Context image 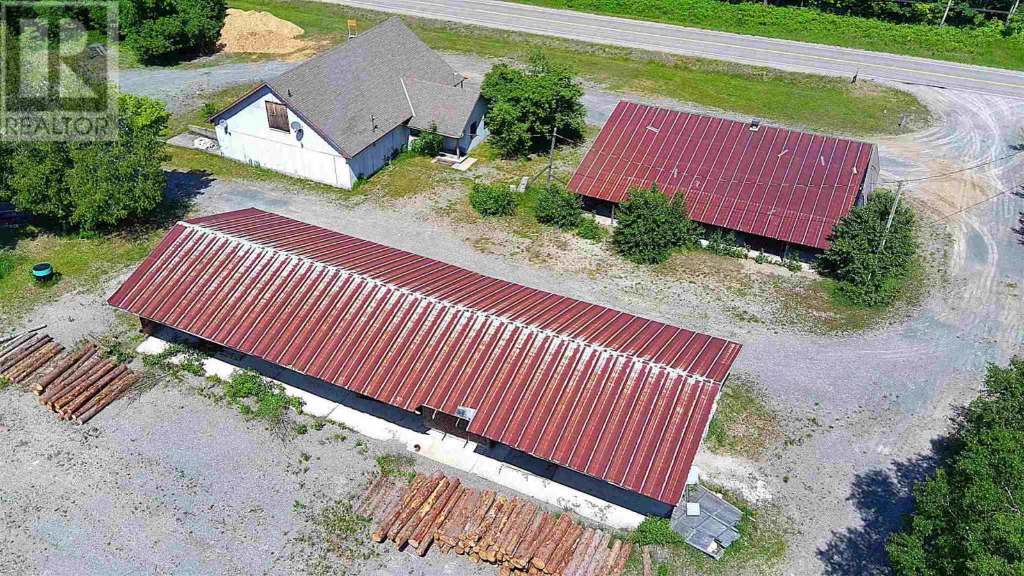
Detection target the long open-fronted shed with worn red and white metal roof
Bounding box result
[106,207,744,531]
